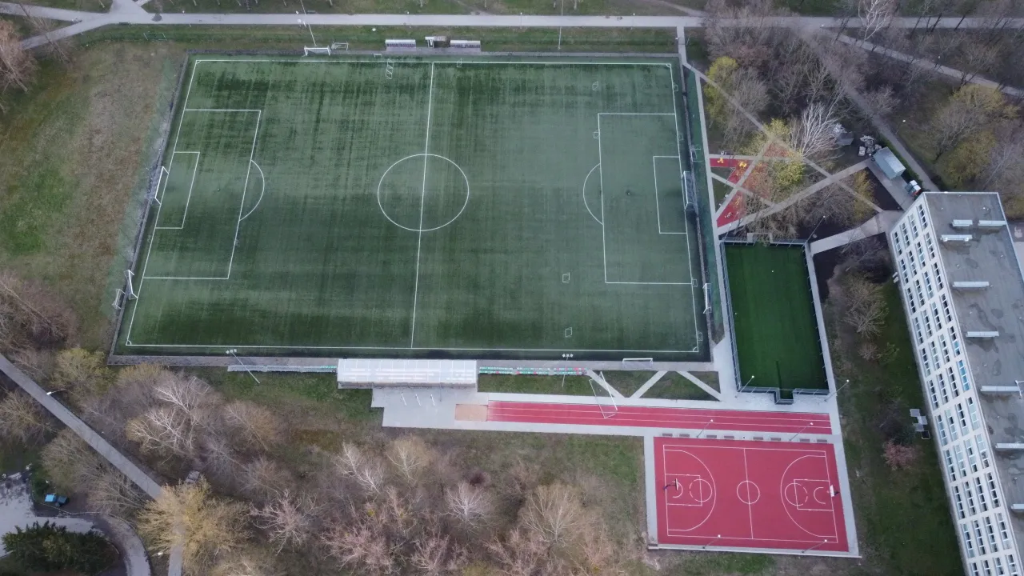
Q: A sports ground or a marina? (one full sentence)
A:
What you see here is a sports ground.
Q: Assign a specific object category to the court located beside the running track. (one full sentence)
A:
It turns out the court located beside the running track is a basketball court.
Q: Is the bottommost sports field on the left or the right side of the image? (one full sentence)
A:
The bottommost sports field is on the right side of the image.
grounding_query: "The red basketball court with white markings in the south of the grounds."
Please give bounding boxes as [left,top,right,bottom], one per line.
[654,437,849,552]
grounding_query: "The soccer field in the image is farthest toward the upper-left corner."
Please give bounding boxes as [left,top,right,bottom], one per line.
[112,52,711,362]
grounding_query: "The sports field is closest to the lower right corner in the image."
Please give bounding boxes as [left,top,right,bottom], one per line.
[723,233,828,402]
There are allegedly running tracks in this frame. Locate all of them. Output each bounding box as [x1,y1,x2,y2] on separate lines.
[487,399,832,434]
